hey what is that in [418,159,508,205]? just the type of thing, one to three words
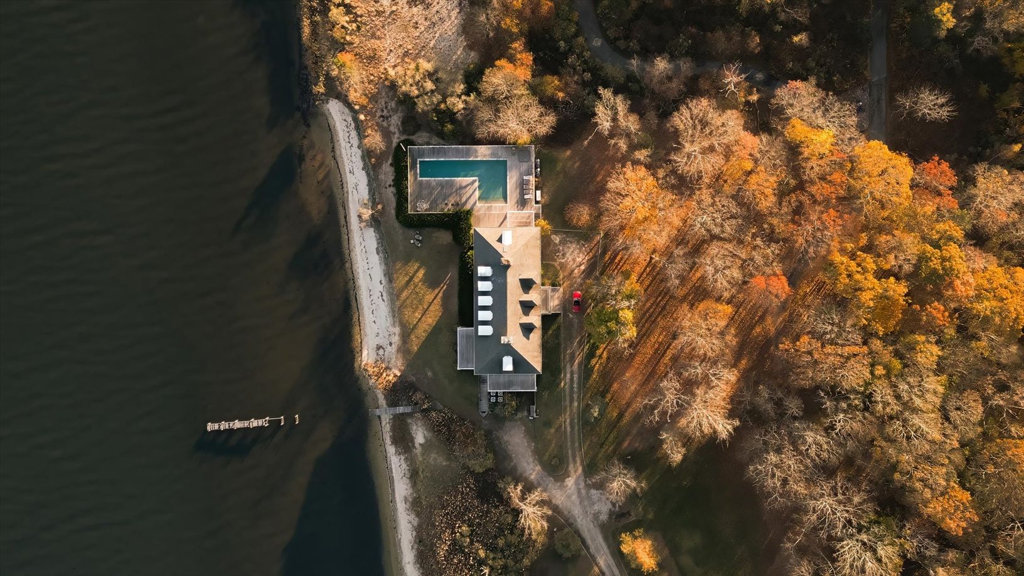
swimming pool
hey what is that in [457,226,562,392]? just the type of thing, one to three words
house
